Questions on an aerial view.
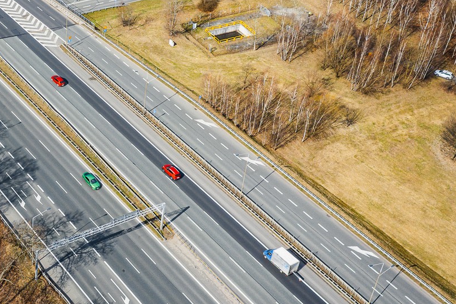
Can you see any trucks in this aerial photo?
Yes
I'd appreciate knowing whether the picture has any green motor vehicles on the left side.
Yes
